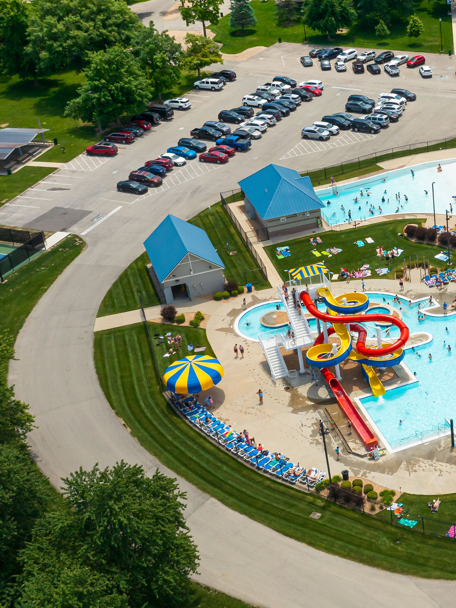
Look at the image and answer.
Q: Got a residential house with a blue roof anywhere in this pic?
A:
Yes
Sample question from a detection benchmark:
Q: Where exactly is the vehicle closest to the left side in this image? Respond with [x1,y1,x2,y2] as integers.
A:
[85,143,118,157]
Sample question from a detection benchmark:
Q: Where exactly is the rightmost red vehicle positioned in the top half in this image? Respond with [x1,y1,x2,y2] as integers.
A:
[405,54,427,68]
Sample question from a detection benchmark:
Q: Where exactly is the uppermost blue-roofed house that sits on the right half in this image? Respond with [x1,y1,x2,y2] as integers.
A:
[239,163,325,238]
